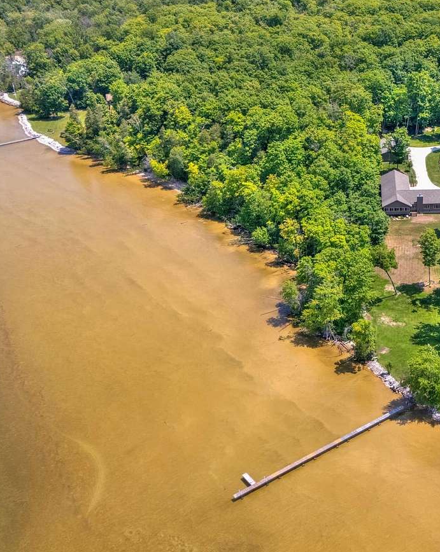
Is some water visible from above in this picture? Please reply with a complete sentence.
Yes, there's water in this view.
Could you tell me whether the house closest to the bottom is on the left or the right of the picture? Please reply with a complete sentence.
It is on the right.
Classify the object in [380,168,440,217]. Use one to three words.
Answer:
house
